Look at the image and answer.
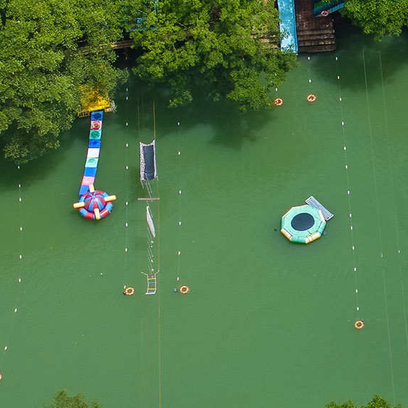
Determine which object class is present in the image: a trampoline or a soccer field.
trampoline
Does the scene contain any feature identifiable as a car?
No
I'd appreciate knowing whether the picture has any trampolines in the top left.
No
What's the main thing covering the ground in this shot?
water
